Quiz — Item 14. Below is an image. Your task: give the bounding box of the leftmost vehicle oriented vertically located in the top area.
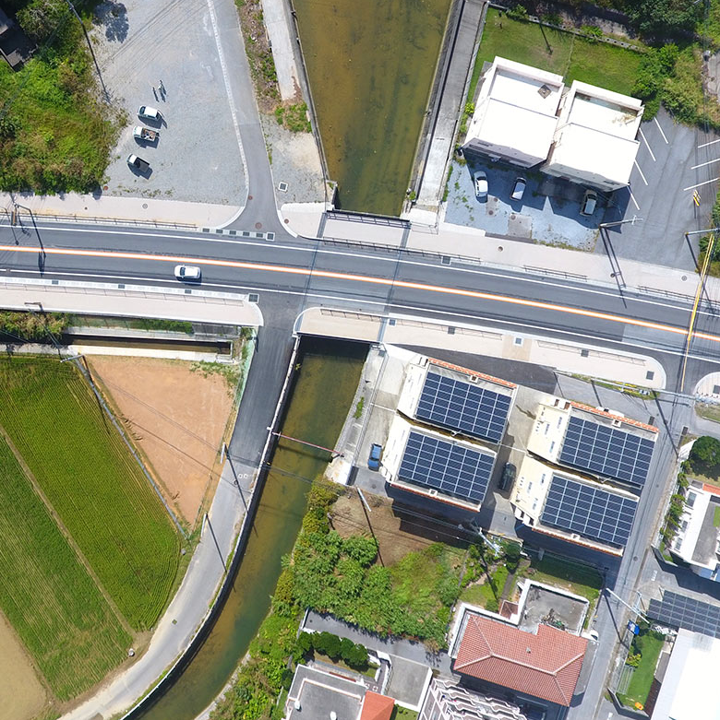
[475,170,489,197]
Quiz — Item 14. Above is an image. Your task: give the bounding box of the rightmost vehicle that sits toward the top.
[582,189,600,215]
